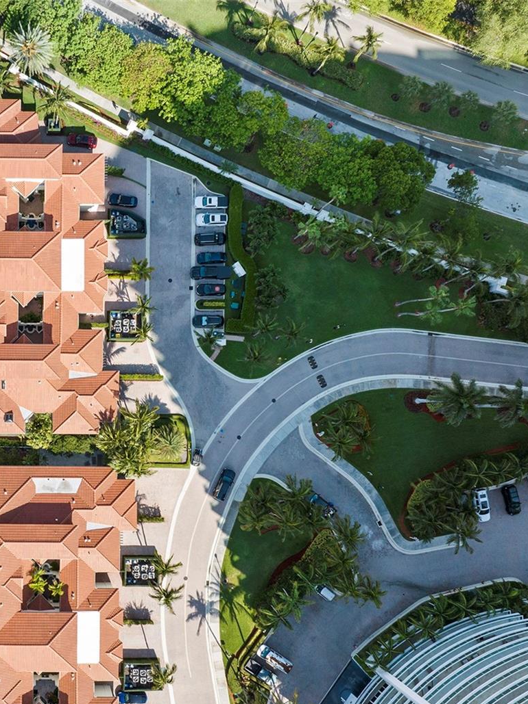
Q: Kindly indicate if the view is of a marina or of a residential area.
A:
residential area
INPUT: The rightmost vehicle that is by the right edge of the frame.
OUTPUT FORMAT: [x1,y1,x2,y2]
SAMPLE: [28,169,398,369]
[499,484,521,514]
